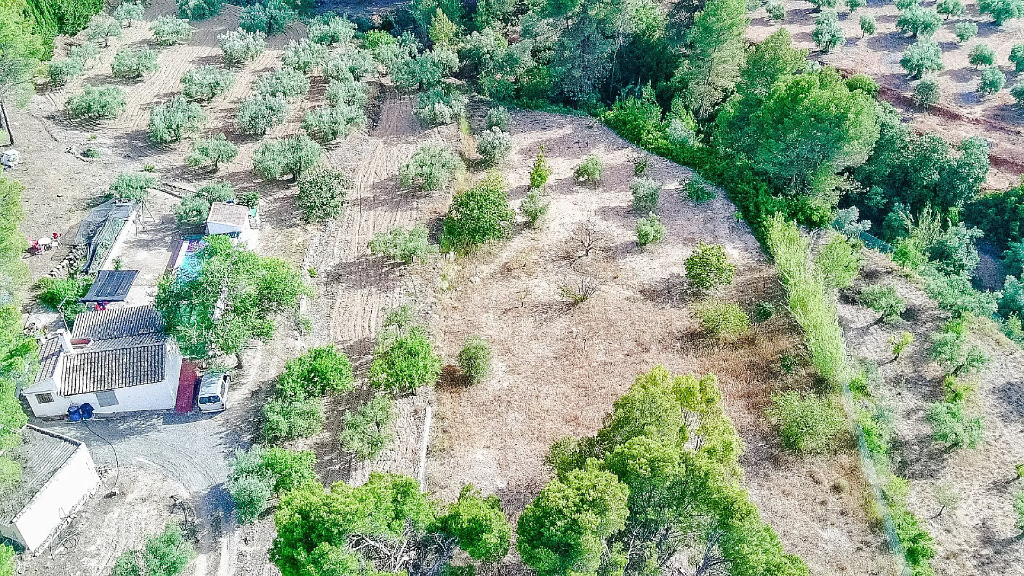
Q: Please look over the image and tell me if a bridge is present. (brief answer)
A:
No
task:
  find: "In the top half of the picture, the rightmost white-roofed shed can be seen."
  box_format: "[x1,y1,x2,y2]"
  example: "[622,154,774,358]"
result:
[206,196,258,238]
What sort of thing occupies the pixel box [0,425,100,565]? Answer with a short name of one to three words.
shed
